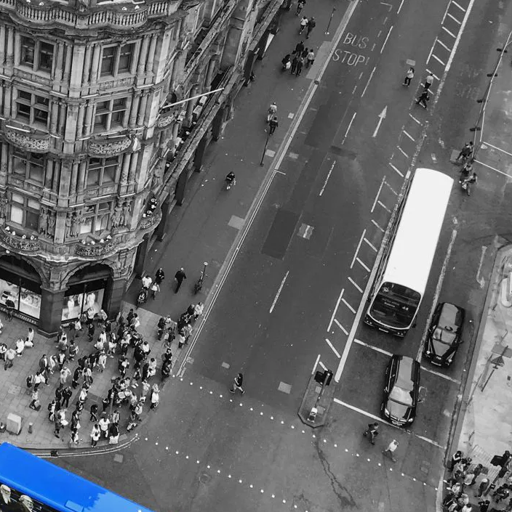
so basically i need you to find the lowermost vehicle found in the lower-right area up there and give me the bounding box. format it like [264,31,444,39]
[382,346,430,421]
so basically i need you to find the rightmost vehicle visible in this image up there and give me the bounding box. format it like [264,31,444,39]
[422,292,468,359]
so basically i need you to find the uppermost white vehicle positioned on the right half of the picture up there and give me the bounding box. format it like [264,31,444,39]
[363,168,458,337]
